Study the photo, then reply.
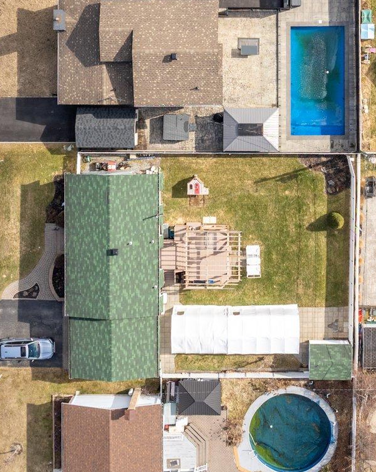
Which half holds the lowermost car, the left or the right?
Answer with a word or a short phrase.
left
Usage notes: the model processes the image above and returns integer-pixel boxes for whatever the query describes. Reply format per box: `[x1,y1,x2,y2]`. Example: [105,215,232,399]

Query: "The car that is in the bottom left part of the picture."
[0,335,55,363]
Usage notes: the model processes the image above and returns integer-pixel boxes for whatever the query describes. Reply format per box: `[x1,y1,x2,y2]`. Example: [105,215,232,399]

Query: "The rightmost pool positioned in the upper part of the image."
[284,19,351,141]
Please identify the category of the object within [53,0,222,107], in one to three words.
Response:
house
